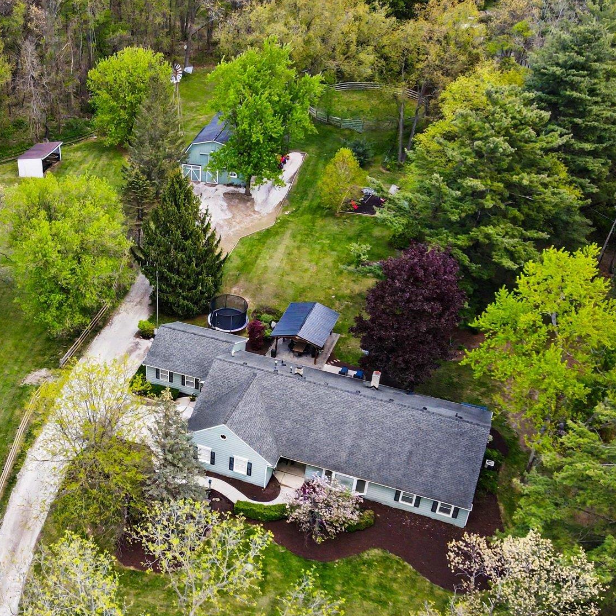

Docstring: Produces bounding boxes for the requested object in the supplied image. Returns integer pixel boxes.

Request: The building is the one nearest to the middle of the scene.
[268,298,341,368]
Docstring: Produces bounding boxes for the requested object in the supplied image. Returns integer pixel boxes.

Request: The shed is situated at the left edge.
[15,141,57,178]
